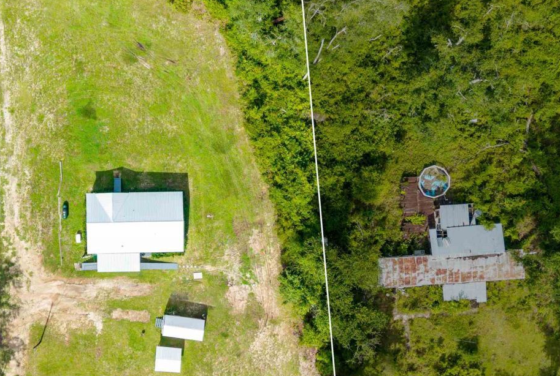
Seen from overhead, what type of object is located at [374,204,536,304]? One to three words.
house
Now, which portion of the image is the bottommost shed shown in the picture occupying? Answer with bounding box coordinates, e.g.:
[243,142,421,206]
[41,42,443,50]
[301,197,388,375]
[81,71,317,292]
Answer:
[155,345,182,373]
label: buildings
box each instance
[160,314,205,342]
[82,178,184,273]
[155,345,182,373]
[374,204,536,304]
